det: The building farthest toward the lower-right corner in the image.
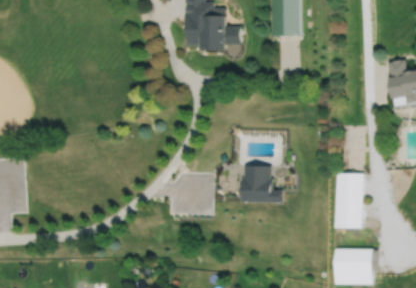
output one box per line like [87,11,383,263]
[333,245,376,284]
